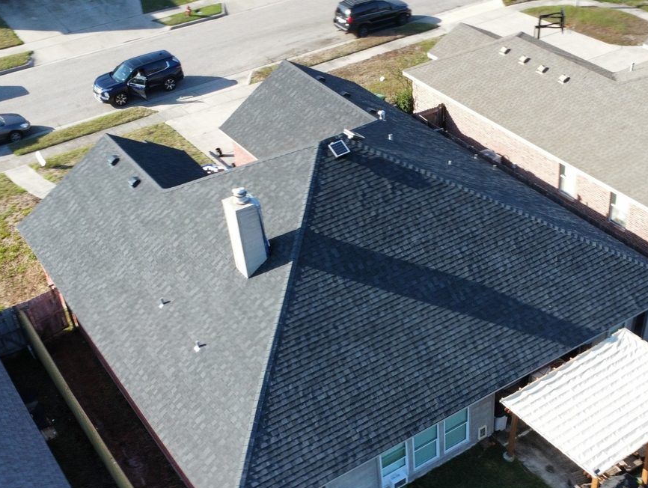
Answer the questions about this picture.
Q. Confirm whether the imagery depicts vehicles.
Yes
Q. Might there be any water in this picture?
No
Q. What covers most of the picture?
buildings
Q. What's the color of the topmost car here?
black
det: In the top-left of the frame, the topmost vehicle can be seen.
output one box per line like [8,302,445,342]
[83,44,185,104]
